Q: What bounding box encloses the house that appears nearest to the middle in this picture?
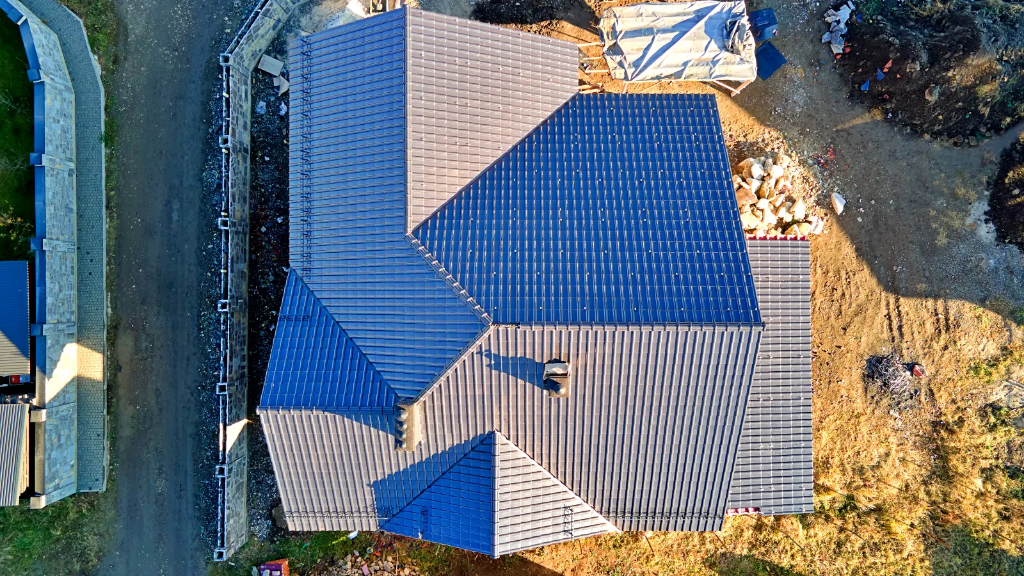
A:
[253,3,814,561]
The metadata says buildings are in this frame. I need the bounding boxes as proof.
[253,3,814,561]
[0,404,37,506]
[0,261,37,377]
